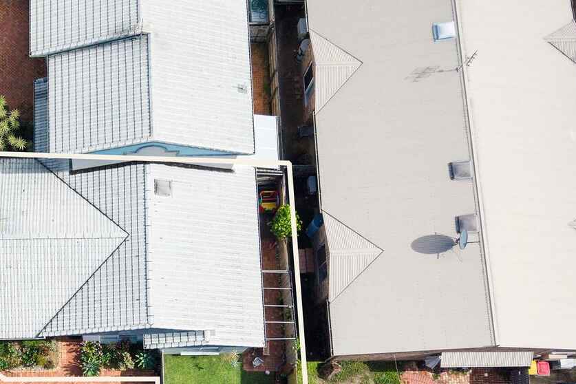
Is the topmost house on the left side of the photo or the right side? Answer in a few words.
left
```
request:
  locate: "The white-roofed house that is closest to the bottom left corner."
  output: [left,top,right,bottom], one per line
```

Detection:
[0,157,268,357]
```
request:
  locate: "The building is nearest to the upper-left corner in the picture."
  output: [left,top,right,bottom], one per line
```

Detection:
[26,0,257,172]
